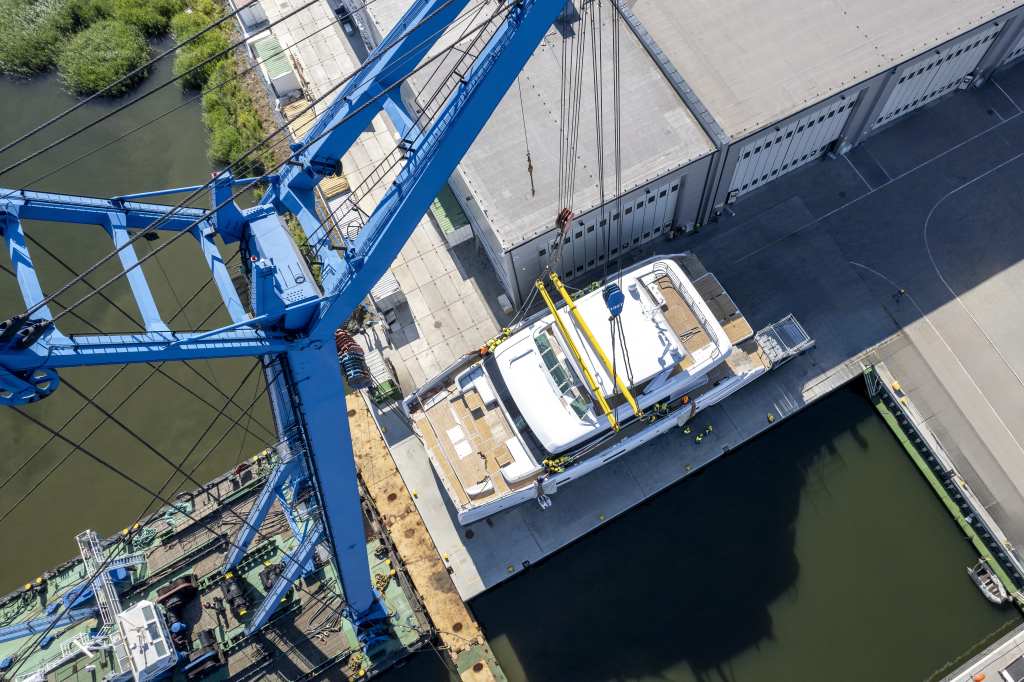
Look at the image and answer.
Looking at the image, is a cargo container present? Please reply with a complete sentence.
Yes, a cargo container can be made out from above.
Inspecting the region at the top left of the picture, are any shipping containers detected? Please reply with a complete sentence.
Yes, you'll find a shipping container at the top left of the picture.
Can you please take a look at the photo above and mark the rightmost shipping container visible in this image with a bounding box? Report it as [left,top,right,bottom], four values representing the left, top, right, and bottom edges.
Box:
[430,181,475,250]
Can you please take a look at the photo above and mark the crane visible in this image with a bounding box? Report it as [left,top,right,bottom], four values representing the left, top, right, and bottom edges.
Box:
[0,0,621,682]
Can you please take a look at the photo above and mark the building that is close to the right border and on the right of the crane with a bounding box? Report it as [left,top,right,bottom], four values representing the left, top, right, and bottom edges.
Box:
[623,0,1024,216]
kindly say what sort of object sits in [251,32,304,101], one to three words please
shipping container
